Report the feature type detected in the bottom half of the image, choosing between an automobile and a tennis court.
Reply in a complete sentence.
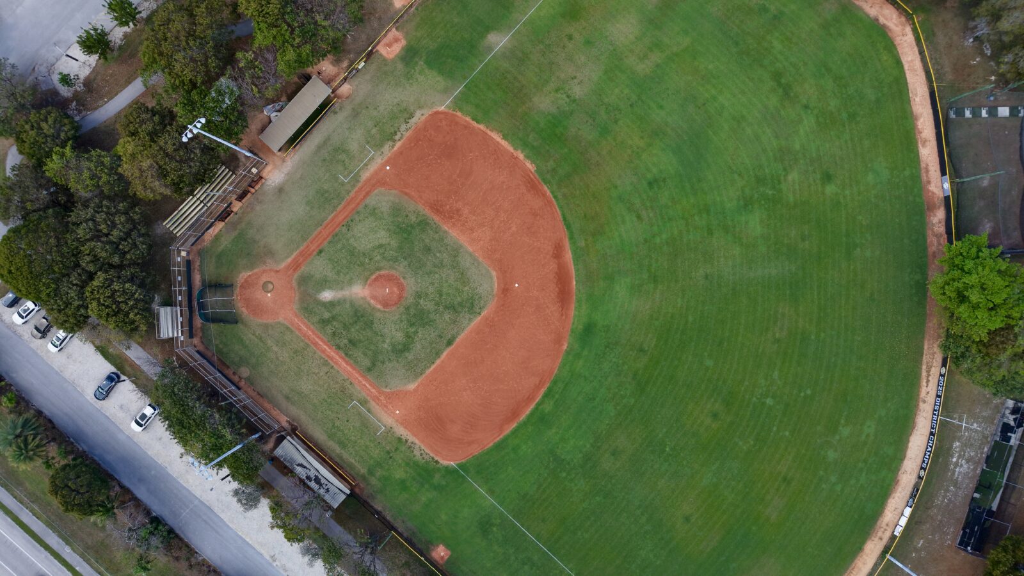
It is an automobile that can be seen in the bottom half of the image.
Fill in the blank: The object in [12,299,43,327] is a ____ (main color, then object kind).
white car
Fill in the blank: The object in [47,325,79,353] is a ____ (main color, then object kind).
white car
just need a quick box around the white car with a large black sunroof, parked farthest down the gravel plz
[132,404,159,433]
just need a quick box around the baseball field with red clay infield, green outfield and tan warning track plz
[189,0,947,576]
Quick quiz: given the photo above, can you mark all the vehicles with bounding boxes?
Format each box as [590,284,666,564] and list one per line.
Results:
[132,404,159,433]
[12,299,43,327]
[0,283,29,309]
[47,325,79,353]
[31,315,55,338]
[94,371,122,402]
